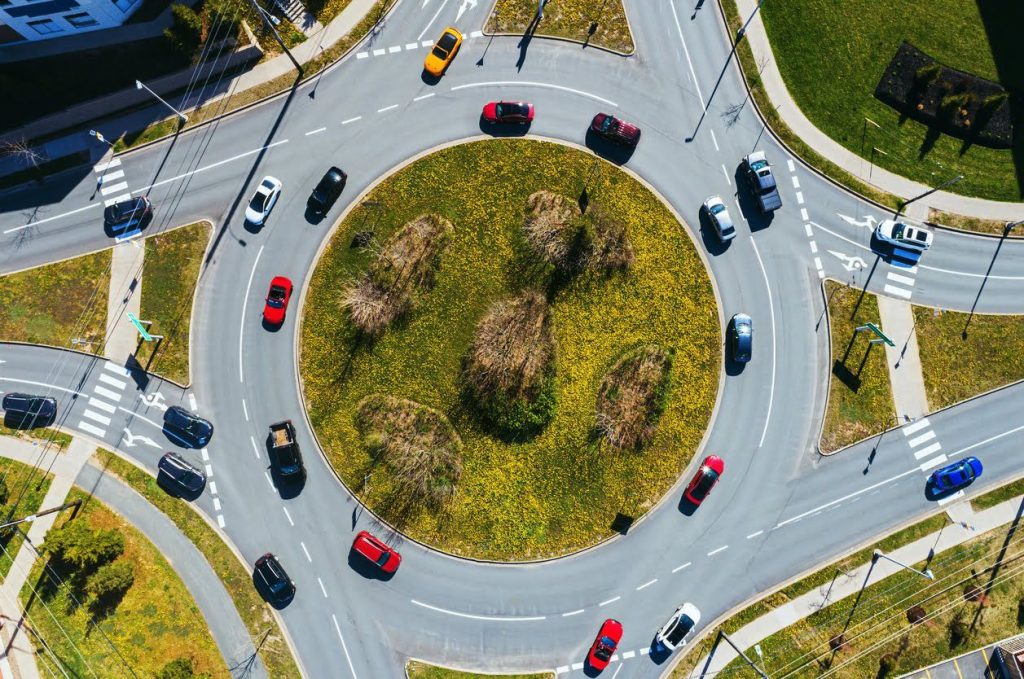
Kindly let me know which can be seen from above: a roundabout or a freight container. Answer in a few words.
roundabout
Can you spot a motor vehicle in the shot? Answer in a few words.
Yes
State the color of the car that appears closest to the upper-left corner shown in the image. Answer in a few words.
black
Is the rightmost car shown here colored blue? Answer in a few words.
Yes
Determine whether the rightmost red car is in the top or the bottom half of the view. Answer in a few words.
bottom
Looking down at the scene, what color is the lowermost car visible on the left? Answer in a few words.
black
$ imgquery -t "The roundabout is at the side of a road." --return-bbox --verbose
[190,30,825,673]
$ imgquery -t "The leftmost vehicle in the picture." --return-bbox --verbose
[0,393,58,417]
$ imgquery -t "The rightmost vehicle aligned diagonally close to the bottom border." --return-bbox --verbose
[660,603,698,652]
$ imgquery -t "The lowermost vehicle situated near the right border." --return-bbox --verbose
[928,459,980,493]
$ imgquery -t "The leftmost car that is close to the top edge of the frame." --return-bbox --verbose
[428,28,462,76]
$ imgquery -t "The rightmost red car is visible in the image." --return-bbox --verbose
[686,454,721,505]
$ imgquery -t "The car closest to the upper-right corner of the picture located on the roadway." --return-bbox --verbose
[877,221,931,251]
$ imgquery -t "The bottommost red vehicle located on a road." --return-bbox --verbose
[589,617,621,670]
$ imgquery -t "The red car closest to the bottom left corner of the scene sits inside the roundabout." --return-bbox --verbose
[353,533,401,570]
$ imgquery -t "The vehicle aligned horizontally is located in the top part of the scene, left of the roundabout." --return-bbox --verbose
[105,196,153,224]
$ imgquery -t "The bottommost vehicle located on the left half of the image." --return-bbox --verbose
[254,555,295,603]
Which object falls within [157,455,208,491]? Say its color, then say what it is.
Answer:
black car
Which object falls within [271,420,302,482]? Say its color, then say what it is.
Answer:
black truck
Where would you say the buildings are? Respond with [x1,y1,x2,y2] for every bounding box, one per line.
[999,637,1024,679]
[0,0,142,47]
